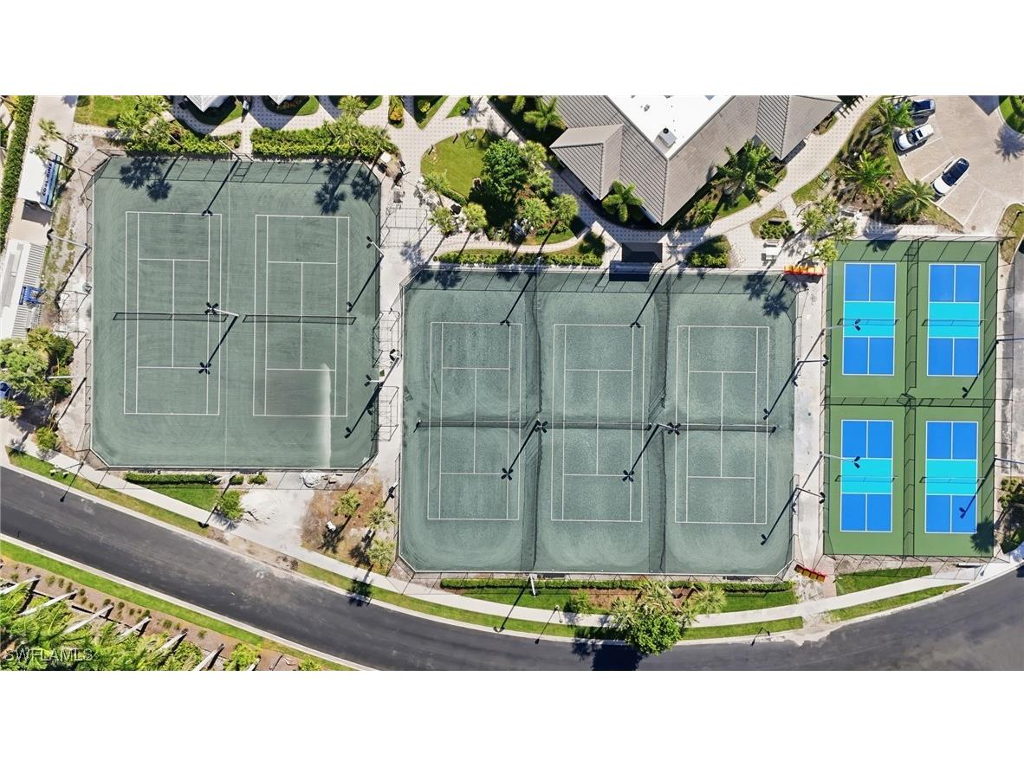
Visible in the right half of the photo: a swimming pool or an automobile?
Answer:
automobile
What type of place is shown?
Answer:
sports ground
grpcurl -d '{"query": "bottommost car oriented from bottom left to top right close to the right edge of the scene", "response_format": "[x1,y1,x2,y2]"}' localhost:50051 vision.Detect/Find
[930,156,974,194]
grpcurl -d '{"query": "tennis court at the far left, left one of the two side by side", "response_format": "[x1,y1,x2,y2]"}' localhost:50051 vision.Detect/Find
[91,157,228,467]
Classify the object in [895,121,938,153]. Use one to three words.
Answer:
car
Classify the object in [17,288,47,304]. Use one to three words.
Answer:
work vehicle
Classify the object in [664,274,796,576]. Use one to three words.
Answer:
tennis court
